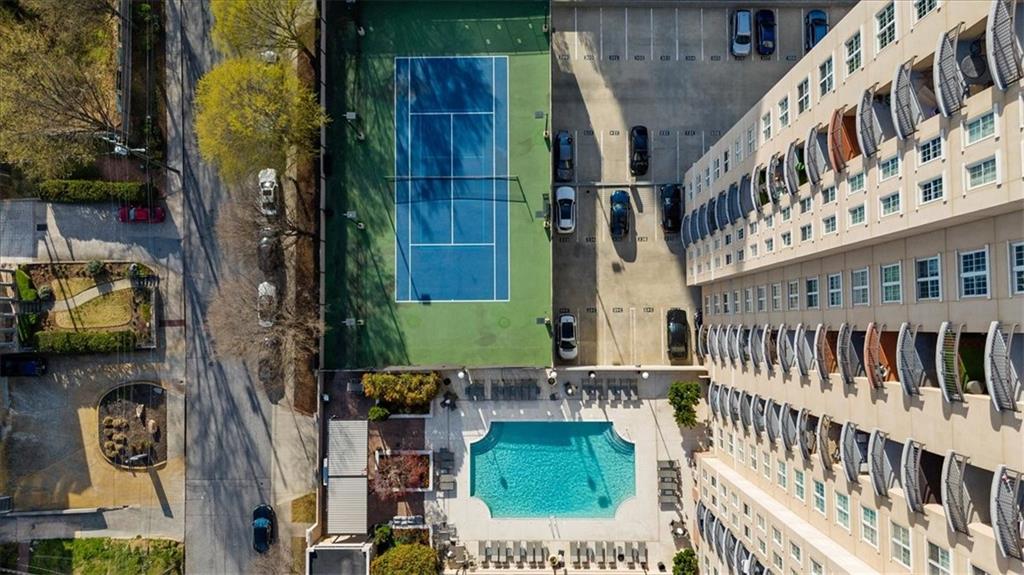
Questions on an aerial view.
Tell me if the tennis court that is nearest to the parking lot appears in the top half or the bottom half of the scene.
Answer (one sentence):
You can find the tennis court that is nearest to the parking lot in the top half.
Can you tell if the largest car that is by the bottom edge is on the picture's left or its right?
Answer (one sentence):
It is on the left.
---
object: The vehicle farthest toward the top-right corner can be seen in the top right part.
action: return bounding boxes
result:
[805,8,830,51]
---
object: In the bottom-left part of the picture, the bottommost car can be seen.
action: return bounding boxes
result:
[249,501,275,555]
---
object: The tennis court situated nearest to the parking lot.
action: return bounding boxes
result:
[337,0,551,367]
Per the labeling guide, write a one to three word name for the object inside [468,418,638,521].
swimming pool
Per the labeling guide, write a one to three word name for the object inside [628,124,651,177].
car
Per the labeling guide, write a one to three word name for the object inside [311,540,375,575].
building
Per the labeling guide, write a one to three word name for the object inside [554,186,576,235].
car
